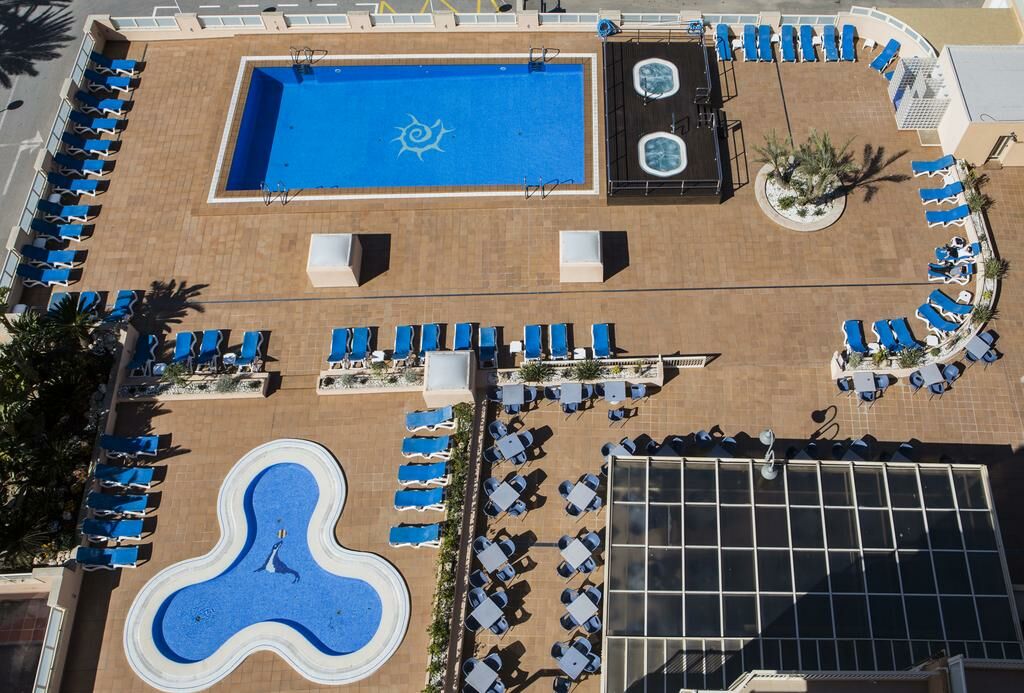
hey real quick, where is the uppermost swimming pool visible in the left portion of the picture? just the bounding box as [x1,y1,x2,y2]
[208,52,600,203]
